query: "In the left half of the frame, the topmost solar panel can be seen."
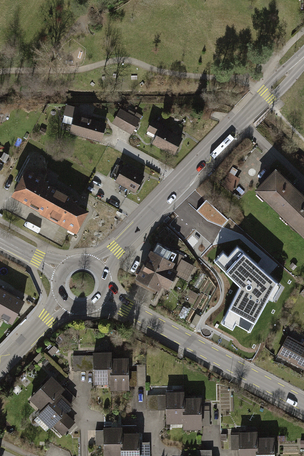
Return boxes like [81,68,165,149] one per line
[94,370,108,384]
